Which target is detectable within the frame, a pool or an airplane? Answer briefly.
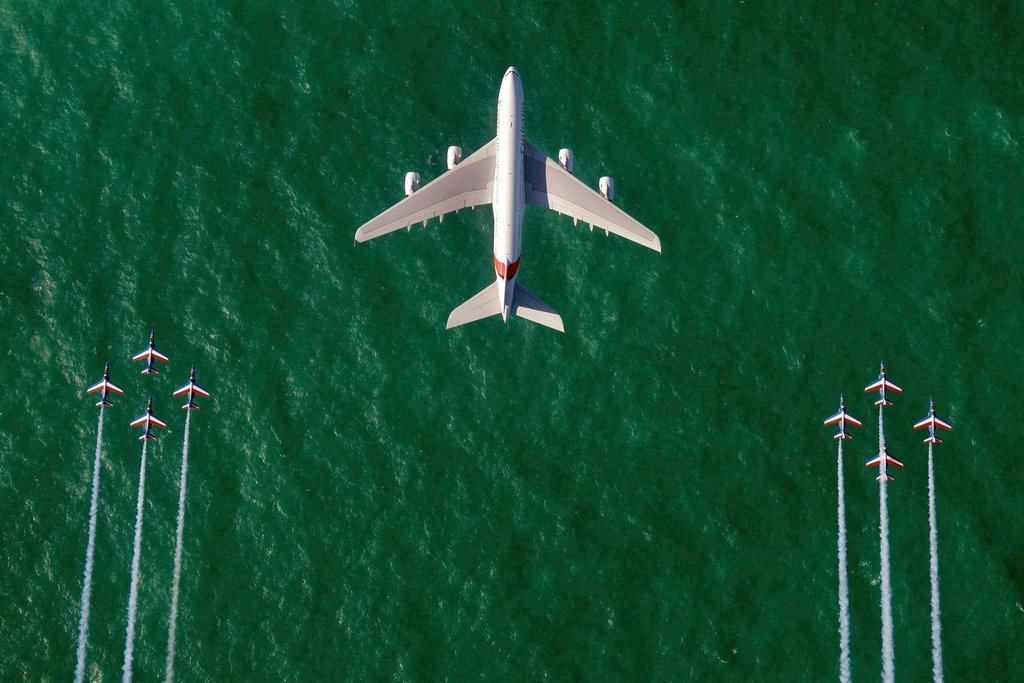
airplane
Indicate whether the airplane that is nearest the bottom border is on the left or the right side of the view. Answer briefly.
right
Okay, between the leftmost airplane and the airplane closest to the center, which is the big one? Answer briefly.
the airplane closest to the center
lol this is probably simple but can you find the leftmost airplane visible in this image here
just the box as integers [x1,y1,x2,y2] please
[87,361,123,406]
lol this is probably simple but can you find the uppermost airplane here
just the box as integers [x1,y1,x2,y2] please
[354,67,660,332]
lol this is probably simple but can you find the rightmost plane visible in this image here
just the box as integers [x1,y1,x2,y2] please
[914,398,951,443]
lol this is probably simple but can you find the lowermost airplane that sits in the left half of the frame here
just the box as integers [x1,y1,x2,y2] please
[131,396,167,440]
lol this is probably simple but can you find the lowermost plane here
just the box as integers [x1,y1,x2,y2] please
[866,435,903,480]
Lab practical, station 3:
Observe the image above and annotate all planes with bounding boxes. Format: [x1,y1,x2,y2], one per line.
[131,396,167,440]
[87,361,123,406]
[173,364,210,409]
[824,394,862,439]
[866,435,903,480]
[864,358,902,405]
[354,67,660,332]
[133,331,169,374]
[914,398,951,443]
